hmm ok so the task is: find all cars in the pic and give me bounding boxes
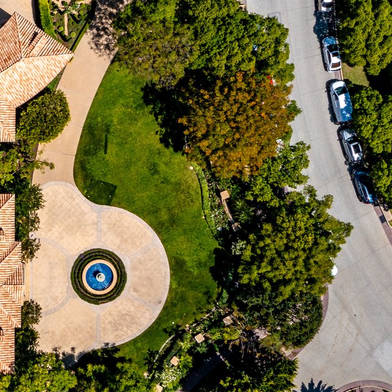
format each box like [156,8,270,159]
[320,260,338,286]
[339,127,364,164]
[320,37,341,73]
[328,80,353,124]
[350,167,376,205]
[315,0,332,13]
